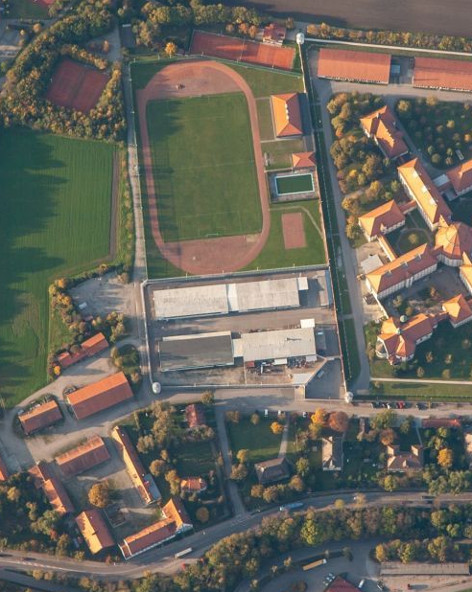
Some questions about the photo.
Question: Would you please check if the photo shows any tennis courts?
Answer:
Yes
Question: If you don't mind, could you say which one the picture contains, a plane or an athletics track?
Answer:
athletics track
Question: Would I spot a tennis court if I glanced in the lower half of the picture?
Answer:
No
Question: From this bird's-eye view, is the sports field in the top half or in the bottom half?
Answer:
top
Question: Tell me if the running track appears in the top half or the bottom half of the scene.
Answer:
top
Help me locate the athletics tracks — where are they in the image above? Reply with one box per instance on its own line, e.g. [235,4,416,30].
[137,60,270,276]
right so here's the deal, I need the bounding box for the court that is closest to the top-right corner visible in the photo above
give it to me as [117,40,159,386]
[259,41,295,70]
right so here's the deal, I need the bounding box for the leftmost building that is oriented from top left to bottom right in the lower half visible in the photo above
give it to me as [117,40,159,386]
[31,460,68,513]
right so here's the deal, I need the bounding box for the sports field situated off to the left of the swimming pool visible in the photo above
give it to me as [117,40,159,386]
[146,92,263,242]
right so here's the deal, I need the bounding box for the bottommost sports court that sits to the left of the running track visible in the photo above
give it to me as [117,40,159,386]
[45,58,110,110]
